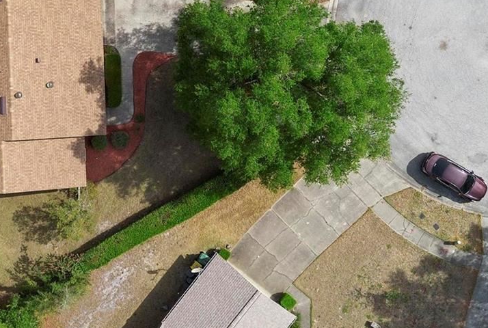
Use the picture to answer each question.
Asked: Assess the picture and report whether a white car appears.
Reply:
No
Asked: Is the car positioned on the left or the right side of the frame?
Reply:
right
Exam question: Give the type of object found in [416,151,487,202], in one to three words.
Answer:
car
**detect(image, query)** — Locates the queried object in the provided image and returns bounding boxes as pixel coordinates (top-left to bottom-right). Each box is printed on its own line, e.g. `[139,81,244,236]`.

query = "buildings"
[146,252,298,328]
[0,0,106,194]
